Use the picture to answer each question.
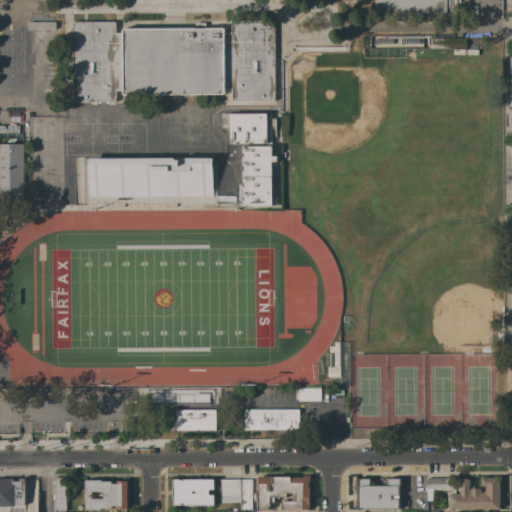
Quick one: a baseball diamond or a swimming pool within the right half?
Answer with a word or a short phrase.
baseball diamond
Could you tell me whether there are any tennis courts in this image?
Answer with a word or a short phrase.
Yes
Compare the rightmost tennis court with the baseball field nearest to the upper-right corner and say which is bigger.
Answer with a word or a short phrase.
the baseball field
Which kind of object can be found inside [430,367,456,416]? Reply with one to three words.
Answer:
tennis court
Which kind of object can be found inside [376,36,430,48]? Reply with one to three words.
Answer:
shed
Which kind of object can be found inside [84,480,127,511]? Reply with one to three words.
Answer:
building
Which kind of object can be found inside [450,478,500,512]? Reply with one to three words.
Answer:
house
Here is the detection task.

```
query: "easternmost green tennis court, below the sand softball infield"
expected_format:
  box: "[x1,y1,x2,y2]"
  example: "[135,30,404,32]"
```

[467,367,493,416]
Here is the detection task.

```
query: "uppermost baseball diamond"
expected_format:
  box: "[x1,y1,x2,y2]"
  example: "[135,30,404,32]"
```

[292,58,387,154]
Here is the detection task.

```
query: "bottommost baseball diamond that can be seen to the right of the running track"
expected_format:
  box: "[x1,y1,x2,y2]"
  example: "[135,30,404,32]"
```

[432,282,503,354]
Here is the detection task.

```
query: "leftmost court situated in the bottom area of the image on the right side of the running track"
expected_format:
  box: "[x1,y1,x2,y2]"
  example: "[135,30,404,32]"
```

[357,367,383,416]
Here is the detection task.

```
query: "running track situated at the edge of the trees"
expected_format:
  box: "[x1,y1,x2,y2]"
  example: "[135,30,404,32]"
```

[0,210,344,386]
